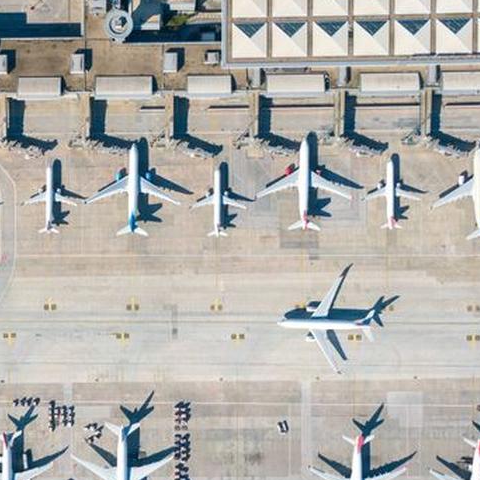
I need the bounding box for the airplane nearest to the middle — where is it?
[189,168,246,236]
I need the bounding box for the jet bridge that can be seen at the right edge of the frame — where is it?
[421,140,474,166]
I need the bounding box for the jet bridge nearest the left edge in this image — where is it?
[0,142,46,167]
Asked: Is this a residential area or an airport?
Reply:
airport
